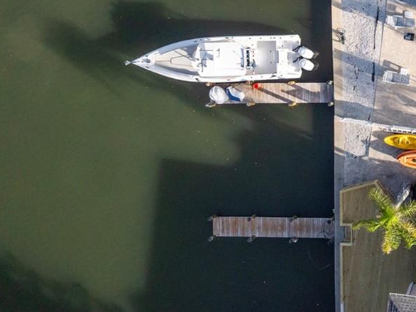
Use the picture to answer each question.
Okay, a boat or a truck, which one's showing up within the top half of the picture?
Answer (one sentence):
Visible within the top half of the picture is a boat.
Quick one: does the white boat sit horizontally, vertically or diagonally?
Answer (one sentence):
In this picture, the white boat lies horizontally.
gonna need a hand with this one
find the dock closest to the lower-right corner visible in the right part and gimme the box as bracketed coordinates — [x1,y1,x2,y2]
[209,211,335,243]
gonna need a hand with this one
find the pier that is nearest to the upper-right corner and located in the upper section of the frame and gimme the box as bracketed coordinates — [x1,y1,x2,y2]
[206,80,334,108]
